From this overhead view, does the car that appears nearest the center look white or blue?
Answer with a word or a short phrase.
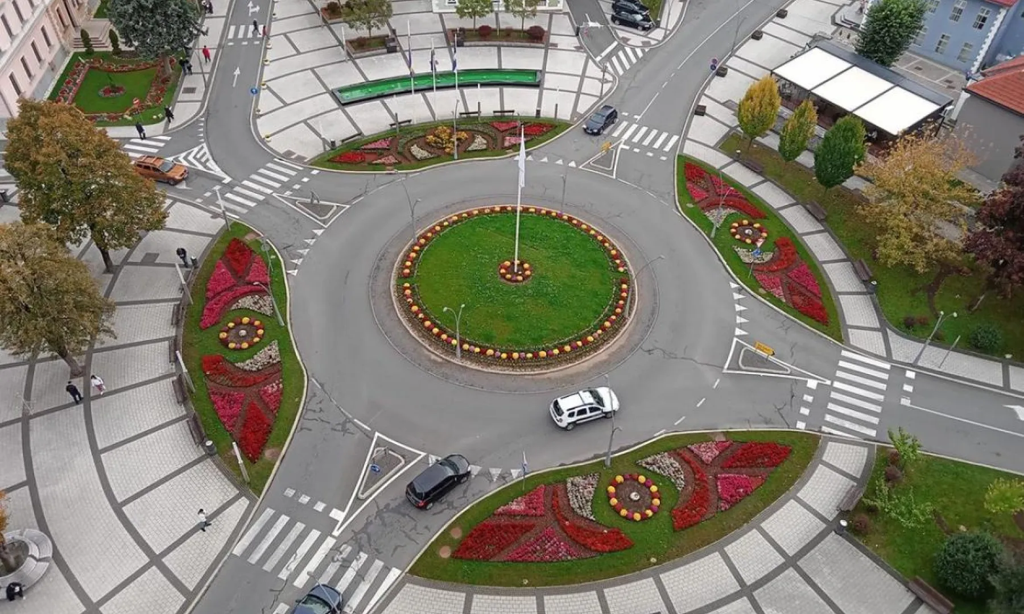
white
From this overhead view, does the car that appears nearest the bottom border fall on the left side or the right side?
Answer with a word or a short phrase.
left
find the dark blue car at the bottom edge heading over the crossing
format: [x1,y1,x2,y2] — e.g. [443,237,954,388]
[295,584,343,614]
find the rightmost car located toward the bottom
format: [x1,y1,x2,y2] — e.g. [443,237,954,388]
[552,387,621,430]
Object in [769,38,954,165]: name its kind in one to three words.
building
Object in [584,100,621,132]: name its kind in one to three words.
car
